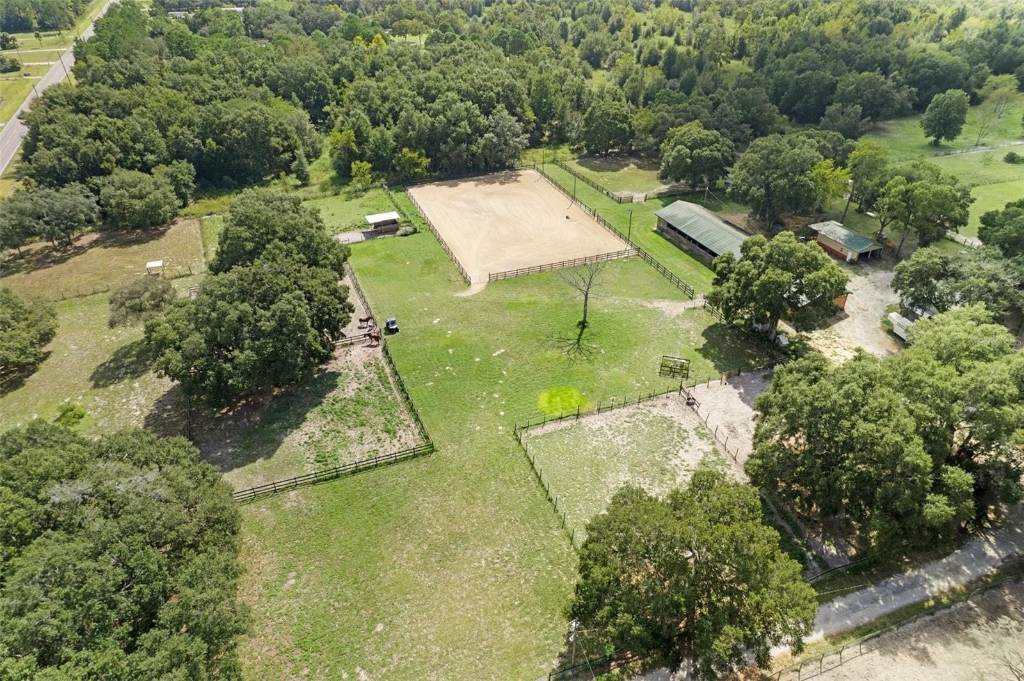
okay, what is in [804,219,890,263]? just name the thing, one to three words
building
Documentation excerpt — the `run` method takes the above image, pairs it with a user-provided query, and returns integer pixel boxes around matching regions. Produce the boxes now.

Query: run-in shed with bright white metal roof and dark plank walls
[366,213,400,235]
